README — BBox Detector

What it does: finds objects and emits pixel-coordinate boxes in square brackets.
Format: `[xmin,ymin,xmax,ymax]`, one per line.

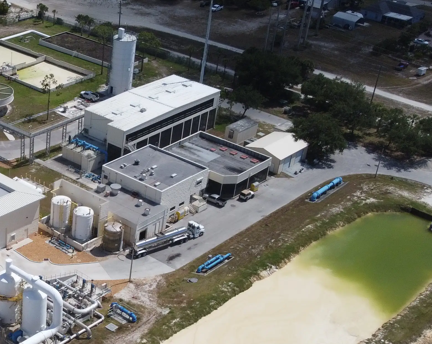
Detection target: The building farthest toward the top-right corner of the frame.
[363,3,430,34]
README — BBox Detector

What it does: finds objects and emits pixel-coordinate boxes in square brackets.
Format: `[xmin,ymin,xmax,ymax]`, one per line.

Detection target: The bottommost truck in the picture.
[123,217,205,255]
